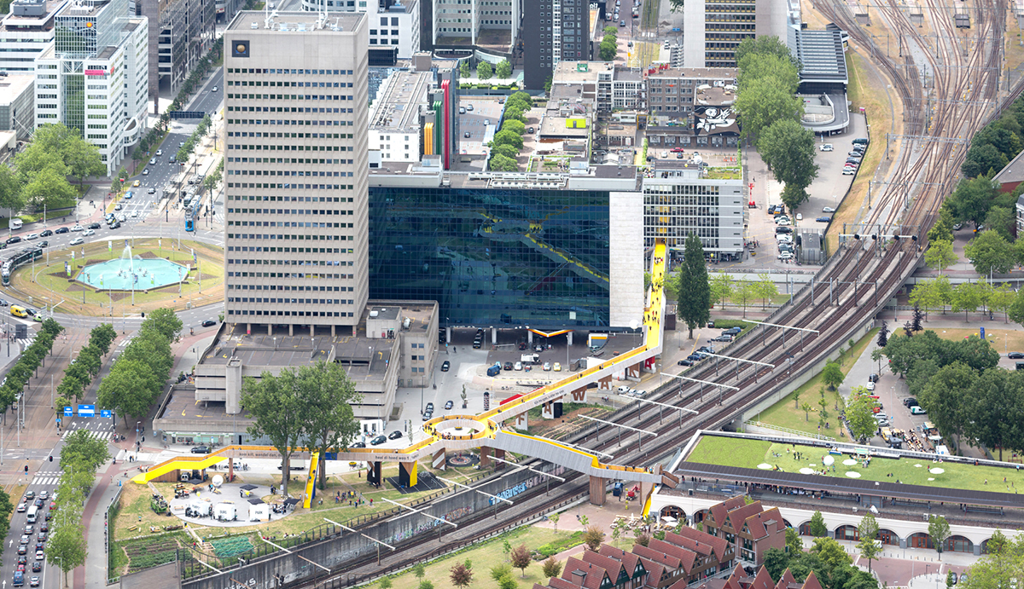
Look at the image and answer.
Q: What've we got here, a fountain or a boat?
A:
fountain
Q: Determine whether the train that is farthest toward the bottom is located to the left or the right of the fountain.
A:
to its left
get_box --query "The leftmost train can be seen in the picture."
[0,234,44,290]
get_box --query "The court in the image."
[388,472,447,494]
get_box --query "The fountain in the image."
[72,235,188,294]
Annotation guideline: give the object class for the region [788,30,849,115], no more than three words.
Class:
building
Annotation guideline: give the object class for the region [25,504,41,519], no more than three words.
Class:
vehicle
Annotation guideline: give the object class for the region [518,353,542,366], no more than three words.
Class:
vehicle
